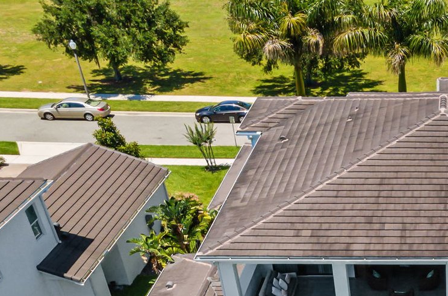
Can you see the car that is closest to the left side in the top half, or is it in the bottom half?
top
